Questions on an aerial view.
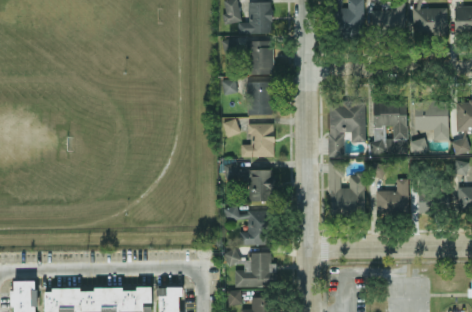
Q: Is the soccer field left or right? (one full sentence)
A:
You can find the soccer field on the left side of the picture.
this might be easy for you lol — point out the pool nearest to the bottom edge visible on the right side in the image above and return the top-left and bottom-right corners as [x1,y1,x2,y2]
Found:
[346,162,364,176]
